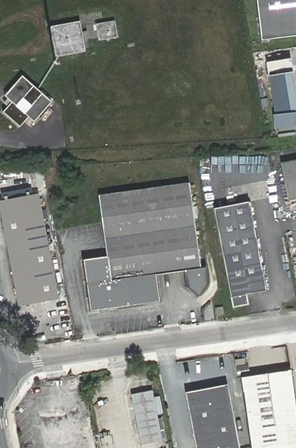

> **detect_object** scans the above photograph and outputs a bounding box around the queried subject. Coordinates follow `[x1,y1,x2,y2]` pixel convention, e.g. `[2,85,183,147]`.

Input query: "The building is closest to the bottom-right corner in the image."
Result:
[242,369,296,448]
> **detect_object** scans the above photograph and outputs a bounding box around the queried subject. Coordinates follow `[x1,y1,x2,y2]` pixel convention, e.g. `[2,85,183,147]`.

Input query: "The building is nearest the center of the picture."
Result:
[99,182,201,280]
